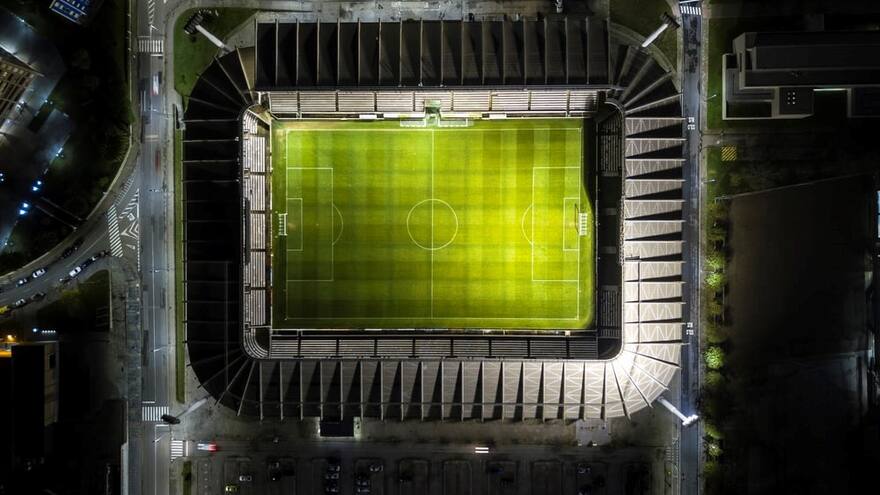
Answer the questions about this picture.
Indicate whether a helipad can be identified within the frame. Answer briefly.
No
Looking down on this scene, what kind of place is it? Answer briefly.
sports ground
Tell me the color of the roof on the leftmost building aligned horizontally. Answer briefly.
black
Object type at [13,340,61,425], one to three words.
building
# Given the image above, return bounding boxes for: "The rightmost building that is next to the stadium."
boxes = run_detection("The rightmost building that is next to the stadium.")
[720,33,880,120]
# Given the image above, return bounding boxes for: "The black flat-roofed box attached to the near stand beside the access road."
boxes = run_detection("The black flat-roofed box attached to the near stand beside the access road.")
[319,418,361,437]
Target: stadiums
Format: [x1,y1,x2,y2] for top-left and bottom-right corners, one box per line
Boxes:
[180,18,688,422]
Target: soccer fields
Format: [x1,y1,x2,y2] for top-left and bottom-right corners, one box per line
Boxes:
[272,119,596,331]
